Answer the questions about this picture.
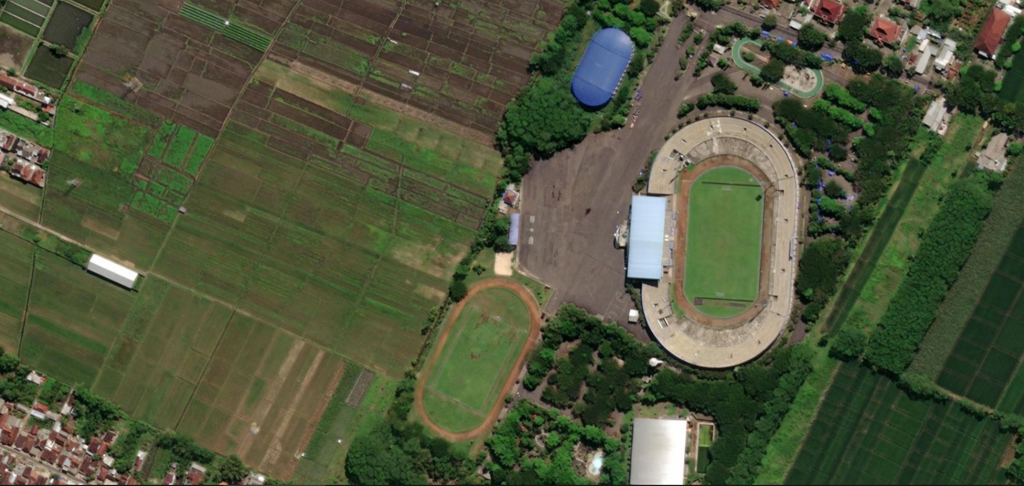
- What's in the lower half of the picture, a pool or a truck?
pool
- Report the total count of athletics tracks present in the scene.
two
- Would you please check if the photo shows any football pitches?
Yes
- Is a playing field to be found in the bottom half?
Yes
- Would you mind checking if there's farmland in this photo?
Yes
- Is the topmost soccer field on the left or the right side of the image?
right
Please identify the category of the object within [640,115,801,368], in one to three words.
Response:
stadium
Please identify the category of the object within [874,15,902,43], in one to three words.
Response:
house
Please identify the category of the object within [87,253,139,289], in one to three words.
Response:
building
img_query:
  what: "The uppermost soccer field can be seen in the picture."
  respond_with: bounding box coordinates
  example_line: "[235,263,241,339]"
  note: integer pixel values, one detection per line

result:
[684,166,763,318]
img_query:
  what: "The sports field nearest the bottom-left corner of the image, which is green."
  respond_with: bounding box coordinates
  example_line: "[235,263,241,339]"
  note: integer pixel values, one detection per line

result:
[422,288,531,433]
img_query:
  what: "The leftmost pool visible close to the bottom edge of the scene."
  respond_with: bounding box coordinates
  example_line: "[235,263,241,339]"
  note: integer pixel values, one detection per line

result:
[585,448,606,479]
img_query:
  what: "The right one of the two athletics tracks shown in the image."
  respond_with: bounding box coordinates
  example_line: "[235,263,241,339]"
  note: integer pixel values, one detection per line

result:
[670,155,773,331]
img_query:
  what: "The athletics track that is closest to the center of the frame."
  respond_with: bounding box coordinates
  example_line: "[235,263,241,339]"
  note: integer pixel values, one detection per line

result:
[416,277,541,442]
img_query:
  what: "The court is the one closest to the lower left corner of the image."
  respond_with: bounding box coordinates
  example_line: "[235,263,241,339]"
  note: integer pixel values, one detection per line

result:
[494,252,513,276]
